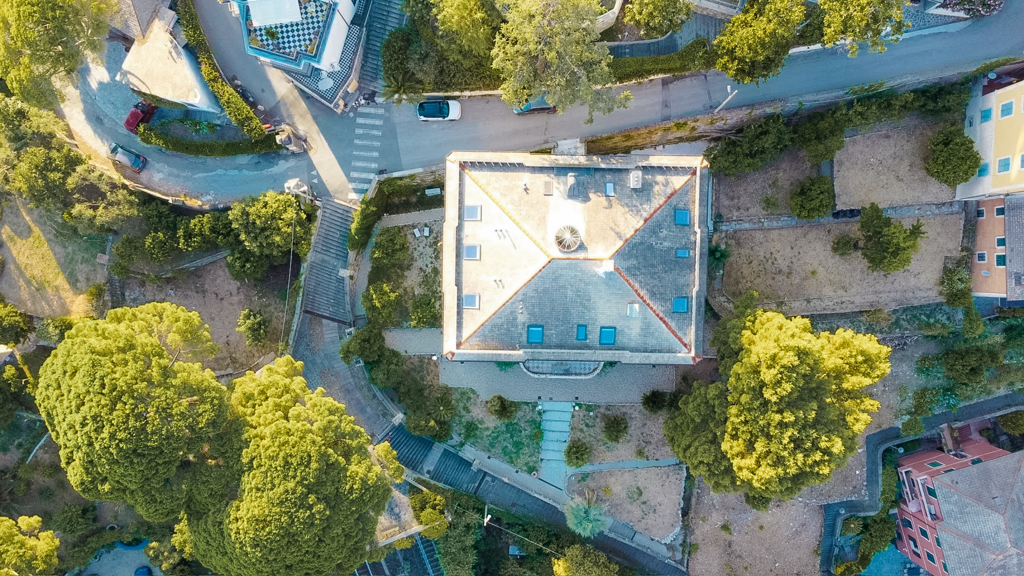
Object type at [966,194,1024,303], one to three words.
house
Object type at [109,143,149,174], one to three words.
car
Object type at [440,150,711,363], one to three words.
house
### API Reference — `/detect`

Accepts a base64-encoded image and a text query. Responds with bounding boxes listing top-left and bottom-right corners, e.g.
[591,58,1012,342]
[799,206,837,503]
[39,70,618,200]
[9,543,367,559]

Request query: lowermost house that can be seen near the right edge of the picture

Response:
[898,438,1024,576]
